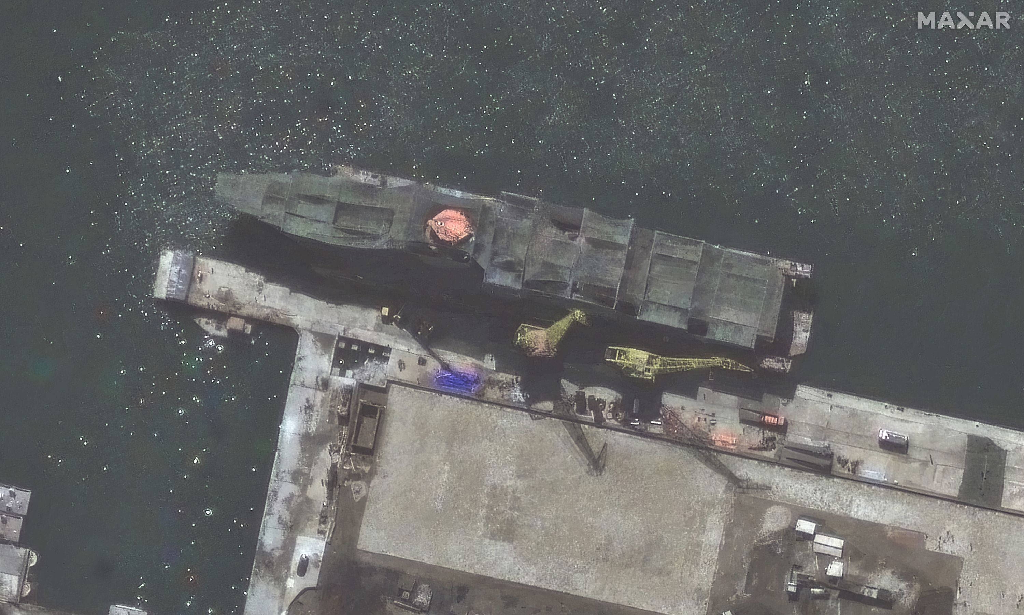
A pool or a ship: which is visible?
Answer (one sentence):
The image shows a ship.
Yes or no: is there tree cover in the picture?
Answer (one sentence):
No, tree cover can't be seen anywhere here.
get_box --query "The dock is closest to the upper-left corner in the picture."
[154,249,193,301]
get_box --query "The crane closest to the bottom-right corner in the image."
[605,341,754,383]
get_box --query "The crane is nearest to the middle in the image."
[514,307,593,357]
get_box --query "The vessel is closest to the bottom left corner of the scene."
[0,514,24,542]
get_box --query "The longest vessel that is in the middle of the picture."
[215,171,812,348]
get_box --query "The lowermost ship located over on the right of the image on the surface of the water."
[760,355,792,372]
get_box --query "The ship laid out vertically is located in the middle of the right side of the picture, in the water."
[789,310,813,356]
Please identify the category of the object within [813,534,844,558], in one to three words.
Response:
shed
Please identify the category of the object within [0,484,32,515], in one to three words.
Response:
ship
